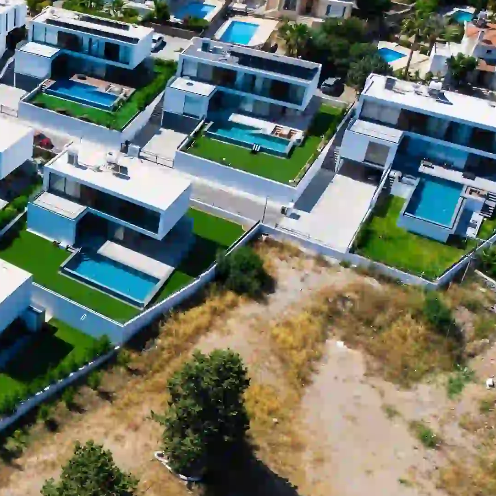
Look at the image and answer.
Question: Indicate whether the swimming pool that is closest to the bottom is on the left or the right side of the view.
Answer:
left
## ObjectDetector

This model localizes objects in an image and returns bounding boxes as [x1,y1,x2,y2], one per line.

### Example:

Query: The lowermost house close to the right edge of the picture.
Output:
[325,68,496,180]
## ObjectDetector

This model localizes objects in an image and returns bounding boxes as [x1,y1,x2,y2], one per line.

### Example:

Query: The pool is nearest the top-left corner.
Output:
[37,74,136,114]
